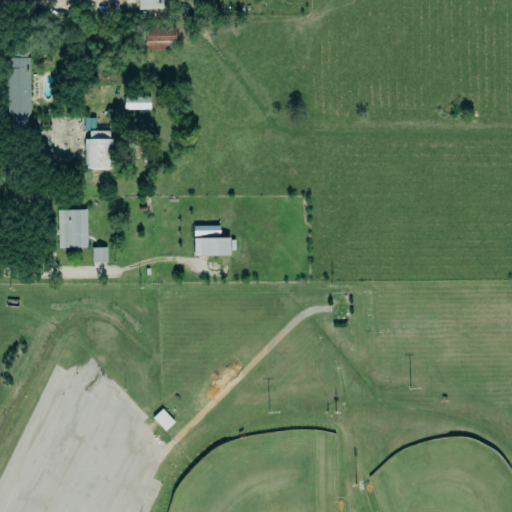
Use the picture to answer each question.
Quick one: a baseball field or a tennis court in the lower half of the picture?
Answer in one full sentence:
What appears in the lower half of the picture is a baseball field.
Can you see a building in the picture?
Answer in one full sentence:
Yes, you can see a building in this photo.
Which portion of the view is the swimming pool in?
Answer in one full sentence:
The swimming pool appears toward the top left of the photo.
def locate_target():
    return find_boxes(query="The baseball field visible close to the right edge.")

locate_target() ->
[366,436,512,512]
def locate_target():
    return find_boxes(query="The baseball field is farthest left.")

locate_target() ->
[168,430,344,512]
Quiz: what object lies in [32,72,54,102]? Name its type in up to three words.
swimming pool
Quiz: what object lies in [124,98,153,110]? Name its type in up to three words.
house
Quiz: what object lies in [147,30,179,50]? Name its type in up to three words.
barn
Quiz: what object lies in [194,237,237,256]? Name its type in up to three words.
house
